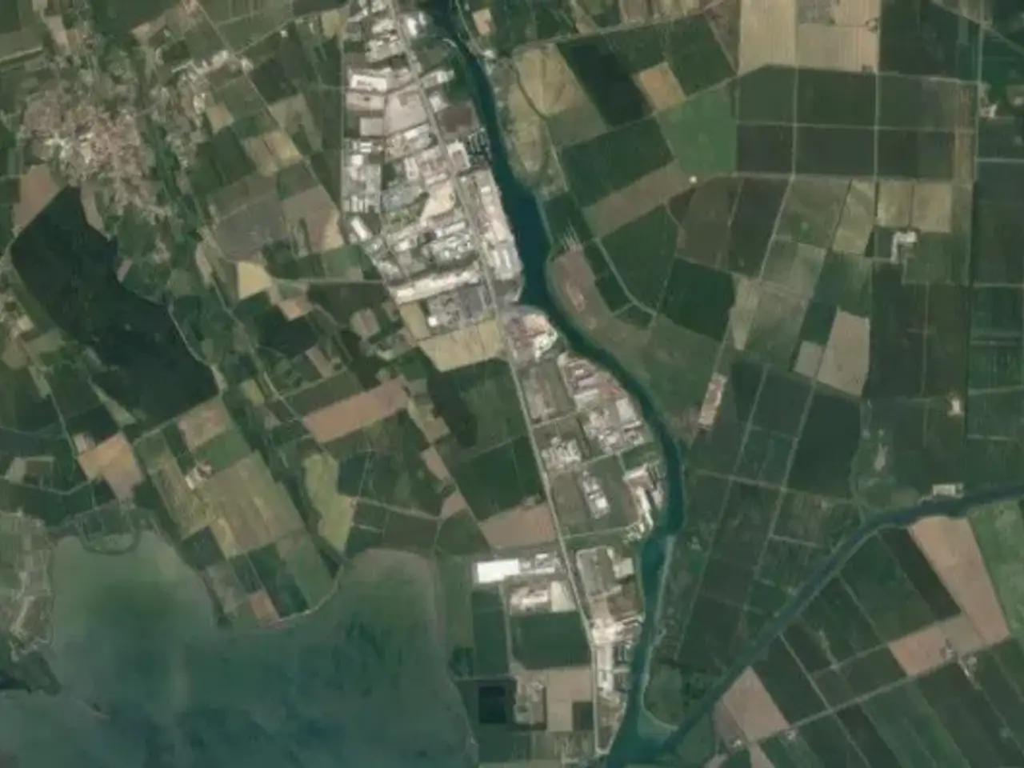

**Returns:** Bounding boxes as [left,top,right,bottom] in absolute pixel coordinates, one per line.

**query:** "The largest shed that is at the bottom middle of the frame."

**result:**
[477,559,520,583]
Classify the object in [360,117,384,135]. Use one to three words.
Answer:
building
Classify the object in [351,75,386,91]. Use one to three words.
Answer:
building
